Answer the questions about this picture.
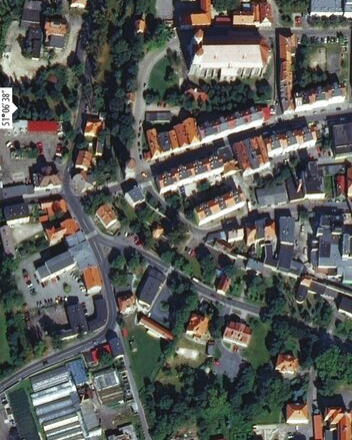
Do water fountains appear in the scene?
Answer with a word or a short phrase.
No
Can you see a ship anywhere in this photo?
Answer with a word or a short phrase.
No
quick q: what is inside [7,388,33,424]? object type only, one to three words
shed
